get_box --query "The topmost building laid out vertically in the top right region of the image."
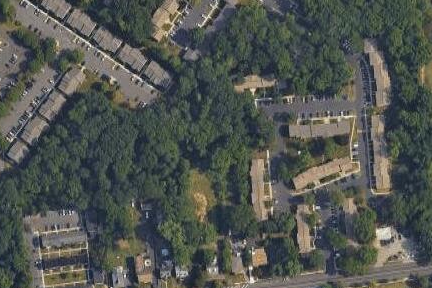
[362,39,390,105]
